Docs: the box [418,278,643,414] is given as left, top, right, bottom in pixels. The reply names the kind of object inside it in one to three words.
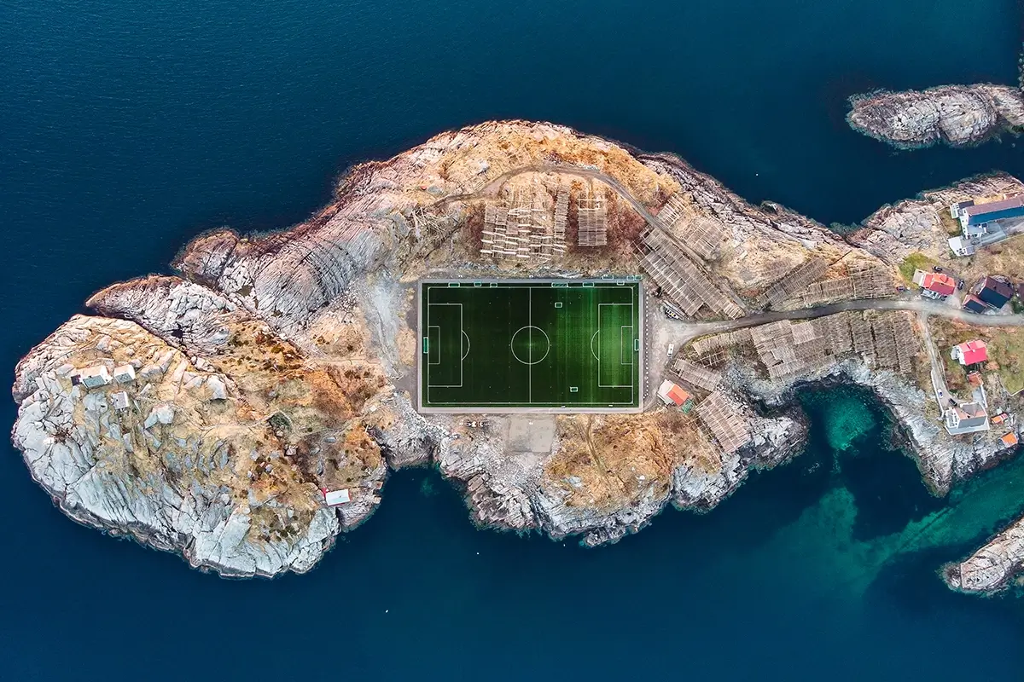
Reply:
sports field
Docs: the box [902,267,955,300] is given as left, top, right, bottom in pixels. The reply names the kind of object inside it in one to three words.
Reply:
house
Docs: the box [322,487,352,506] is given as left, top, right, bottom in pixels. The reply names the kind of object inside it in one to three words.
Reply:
building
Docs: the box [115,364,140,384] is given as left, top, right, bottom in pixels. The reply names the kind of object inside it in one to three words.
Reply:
building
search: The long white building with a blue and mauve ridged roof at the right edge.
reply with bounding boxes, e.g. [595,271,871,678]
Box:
[944,189,1024,242]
